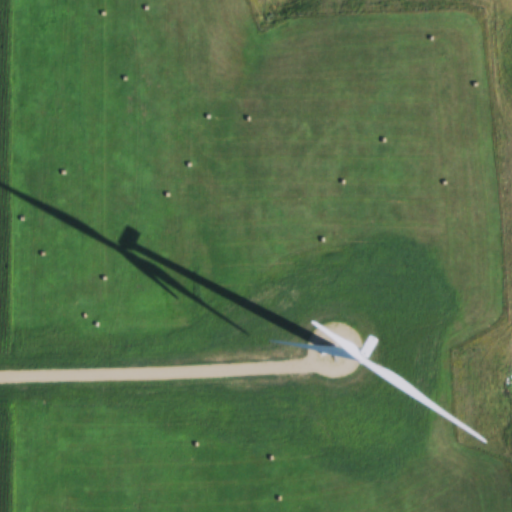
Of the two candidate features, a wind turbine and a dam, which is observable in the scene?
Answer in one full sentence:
It is a wind turbine that can be seen here.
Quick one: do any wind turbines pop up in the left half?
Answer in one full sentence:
No, the scene shows no wind turbine in the left half.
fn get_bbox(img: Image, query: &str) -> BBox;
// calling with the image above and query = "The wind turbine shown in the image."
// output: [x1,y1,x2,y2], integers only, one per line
[272,320,486,442]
